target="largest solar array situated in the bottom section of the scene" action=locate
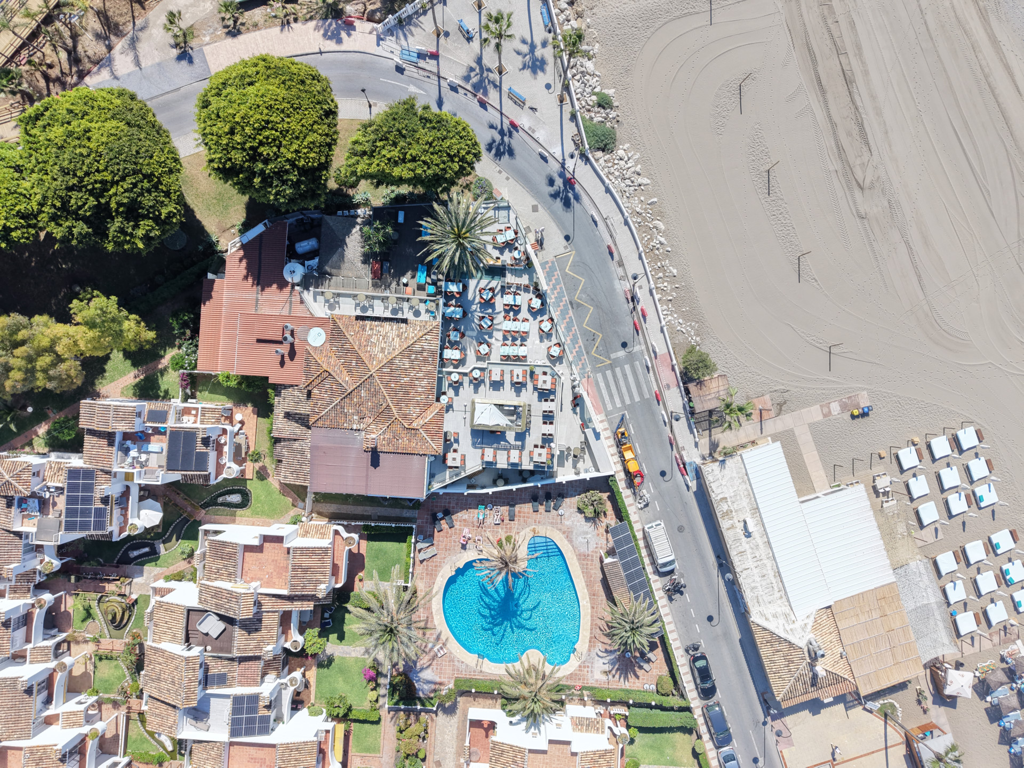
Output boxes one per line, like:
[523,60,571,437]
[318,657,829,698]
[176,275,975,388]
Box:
[610,522,659,617]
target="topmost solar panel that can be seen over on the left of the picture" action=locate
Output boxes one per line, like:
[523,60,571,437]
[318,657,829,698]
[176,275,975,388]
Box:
[147,410,167,422]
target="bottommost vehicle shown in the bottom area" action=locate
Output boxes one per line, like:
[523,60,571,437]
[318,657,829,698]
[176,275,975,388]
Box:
[719,747,742,768]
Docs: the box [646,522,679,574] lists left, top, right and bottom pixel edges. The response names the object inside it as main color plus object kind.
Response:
white van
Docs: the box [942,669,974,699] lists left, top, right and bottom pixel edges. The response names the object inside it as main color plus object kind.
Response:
white umbrella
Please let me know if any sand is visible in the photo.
Yes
